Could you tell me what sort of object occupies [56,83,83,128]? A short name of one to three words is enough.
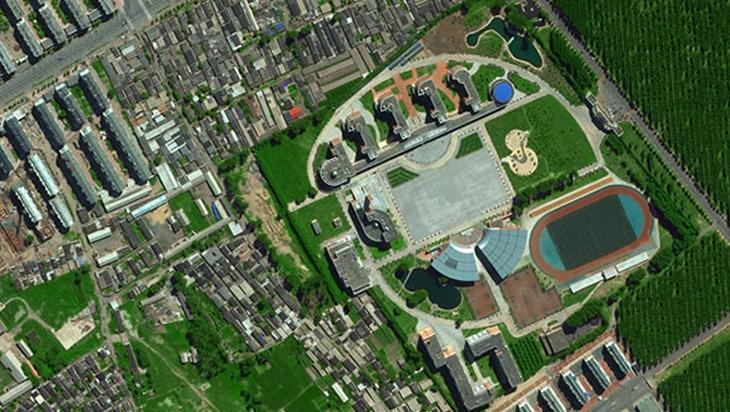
building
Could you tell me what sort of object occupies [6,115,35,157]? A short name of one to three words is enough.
building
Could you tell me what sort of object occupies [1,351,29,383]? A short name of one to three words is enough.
shed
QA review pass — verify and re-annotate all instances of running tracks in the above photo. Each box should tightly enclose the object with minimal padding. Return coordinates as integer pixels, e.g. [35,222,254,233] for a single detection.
[525,182,668,288]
